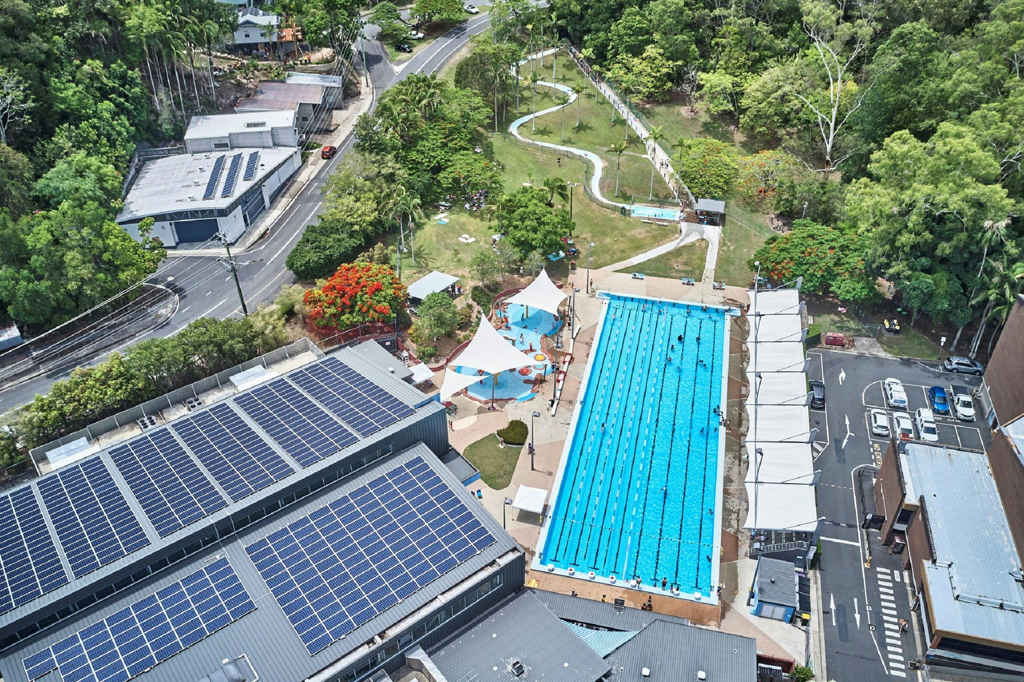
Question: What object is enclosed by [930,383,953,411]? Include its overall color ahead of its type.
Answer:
blue car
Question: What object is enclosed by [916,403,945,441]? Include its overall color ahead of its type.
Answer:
white vehicle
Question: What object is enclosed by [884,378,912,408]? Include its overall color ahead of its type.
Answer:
white vehicle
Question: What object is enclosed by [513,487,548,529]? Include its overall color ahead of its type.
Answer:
white tent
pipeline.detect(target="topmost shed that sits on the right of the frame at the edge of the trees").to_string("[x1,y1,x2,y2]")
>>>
[695,198,726,226]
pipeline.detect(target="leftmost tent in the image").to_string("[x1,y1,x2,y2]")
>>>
[407,362,439,390]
